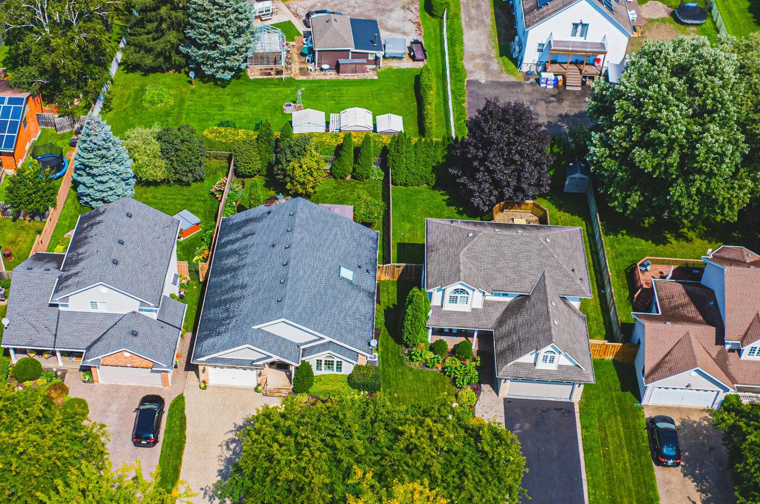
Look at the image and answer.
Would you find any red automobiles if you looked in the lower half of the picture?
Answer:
No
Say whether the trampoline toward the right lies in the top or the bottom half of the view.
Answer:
top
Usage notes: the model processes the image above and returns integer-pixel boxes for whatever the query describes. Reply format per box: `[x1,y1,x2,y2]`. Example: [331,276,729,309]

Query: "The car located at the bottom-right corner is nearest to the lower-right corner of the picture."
[648,414,689,466]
